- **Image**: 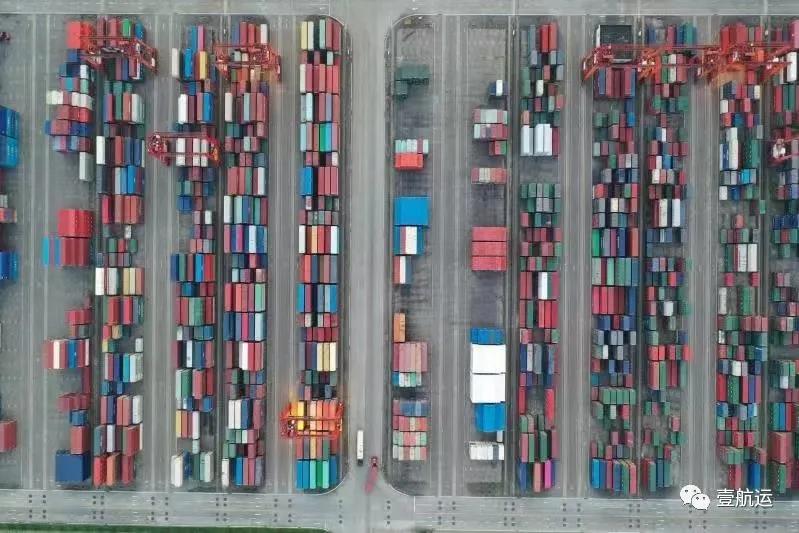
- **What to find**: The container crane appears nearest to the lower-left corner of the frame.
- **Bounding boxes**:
[279,402,344,439]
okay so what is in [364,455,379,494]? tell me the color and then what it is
red vehicle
